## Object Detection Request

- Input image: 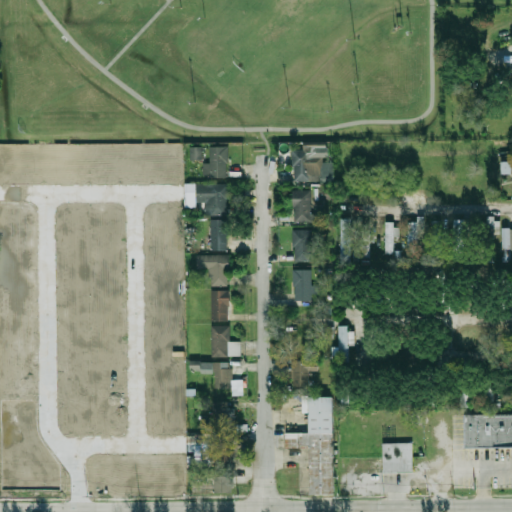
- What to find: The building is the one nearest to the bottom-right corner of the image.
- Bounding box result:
[464,415,512,449]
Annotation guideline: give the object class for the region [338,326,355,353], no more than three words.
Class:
house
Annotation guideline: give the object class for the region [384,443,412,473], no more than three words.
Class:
building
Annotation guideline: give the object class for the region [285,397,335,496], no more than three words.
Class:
building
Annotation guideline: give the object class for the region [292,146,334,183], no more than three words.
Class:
house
